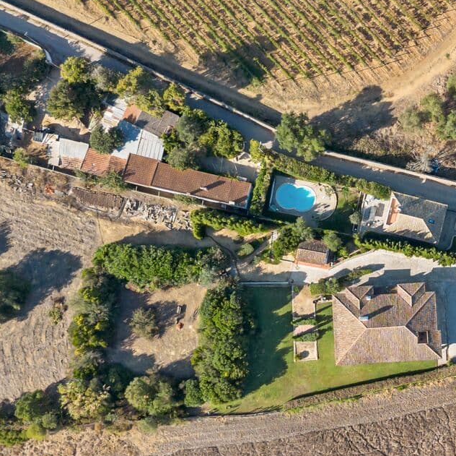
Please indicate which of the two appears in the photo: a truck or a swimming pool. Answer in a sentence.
There is a swimming pool in the scene.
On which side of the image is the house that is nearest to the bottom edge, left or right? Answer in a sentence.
The house that is nearest to the bottom edge sits on the right side.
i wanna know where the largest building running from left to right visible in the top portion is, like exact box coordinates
[123,154,254,210]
